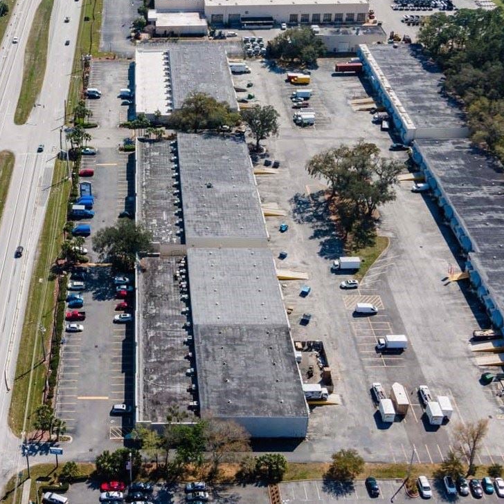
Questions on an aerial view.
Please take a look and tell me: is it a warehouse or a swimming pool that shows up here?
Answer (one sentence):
It is a warehouse that can be seen here.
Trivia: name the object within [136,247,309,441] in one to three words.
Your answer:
warehouse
